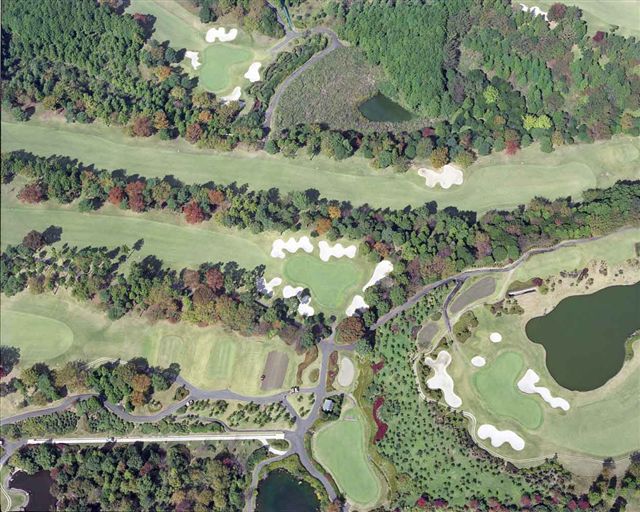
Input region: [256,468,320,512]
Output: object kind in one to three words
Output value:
pond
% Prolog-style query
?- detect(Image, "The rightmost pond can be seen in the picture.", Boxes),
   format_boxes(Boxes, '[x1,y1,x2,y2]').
[525,282,640,392]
